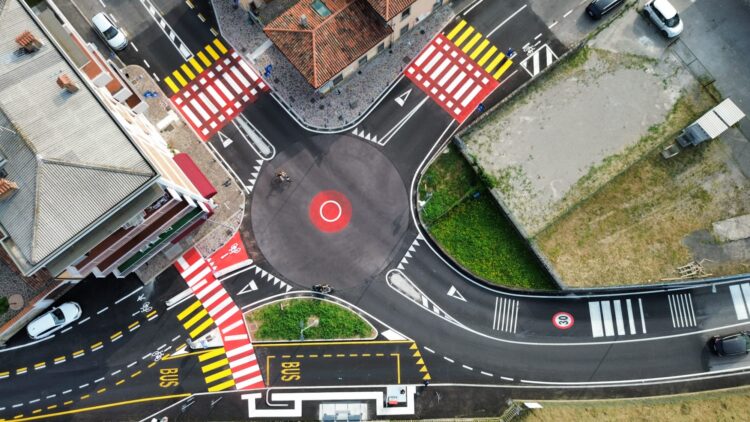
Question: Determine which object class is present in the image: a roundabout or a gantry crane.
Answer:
roundabout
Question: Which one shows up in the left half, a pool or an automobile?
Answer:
automobile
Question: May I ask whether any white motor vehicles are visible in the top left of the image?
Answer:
Yes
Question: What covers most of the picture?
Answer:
paved ground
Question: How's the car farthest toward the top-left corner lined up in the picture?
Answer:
at an angle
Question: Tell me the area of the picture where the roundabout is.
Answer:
center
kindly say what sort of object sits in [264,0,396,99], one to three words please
house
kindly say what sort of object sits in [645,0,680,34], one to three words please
car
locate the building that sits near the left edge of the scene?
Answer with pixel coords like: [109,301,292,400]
[0,0,223,284]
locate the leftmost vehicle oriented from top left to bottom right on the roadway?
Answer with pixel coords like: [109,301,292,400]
[90,10,127,49]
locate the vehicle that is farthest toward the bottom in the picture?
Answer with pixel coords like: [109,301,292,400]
[710,333,750,360]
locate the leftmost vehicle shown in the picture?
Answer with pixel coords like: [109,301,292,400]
[24,303,79,340]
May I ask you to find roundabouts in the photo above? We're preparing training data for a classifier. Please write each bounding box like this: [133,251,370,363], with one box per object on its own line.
[250,134,411,293]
